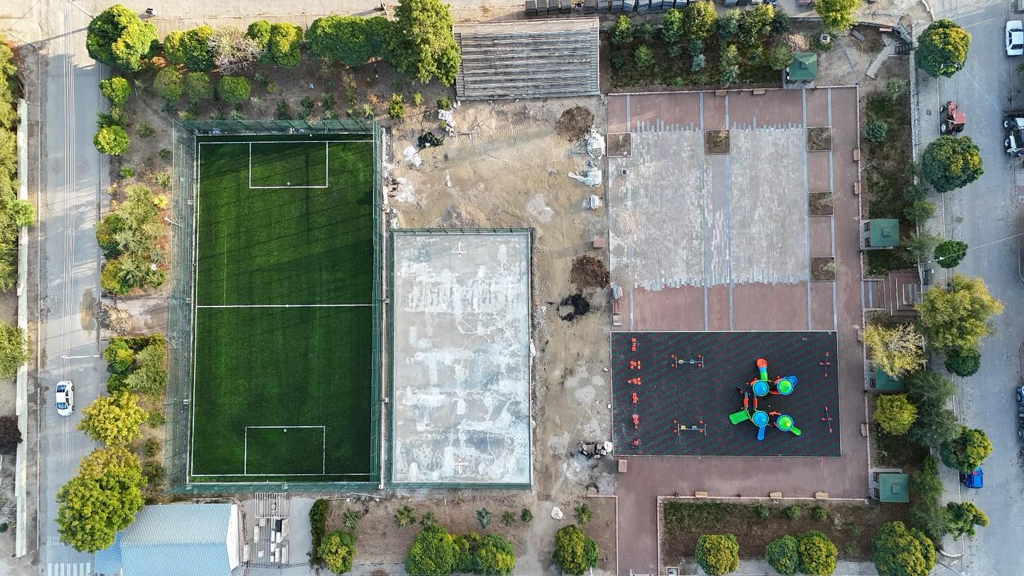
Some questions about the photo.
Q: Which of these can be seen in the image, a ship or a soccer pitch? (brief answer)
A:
soccer pitch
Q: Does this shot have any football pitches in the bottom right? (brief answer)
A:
No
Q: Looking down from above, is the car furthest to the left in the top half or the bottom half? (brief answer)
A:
bottom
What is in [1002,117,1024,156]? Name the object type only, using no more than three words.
work vehicle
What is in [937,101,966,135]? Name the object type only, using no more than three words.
work vehicle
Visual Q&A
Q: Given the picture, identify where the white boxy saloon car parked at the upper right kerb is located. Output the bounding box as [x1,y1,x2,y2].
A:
[1003,22,1024,57]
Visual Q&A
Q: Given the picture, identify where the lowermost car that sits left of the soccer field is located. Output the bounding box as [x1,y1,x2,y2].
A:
[54,380,77,415]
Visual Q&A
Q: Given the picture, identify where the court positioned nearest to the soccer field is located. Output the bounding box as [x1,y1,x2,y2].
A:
[391,232,532,485]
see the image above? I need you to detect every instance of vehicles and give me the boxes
[54,380,77,415]
[961,470,982,491]
[1002,117,1024,156]
[1003,22,1024,57]
[937,101,966,135]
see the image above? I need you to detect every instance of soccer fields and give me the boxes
[188,132,381,485]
